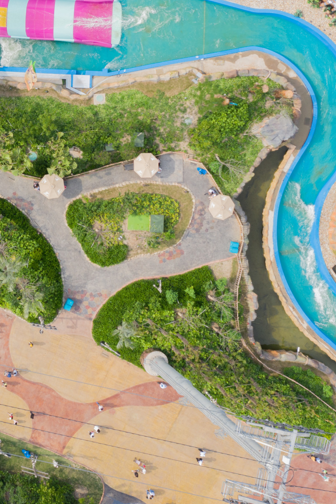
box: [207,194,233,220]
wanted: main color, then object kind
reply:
white umbrella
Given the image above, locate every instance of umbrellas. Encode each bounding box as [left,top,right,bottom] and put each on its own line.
[132,152,159,178]
[207,194,233,220]
[38,172,64,198]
